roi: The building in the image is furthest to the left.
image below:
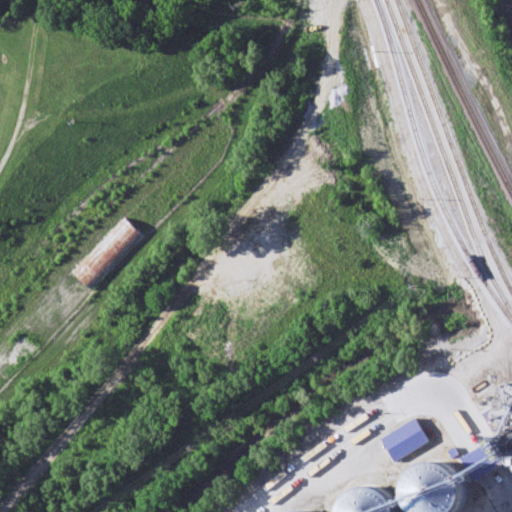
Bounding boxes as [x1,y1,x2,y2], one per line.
[72,216,144,291]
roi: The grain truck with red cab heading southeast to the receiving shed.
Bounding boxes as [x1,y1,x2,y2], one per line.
[454,410,478,444]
